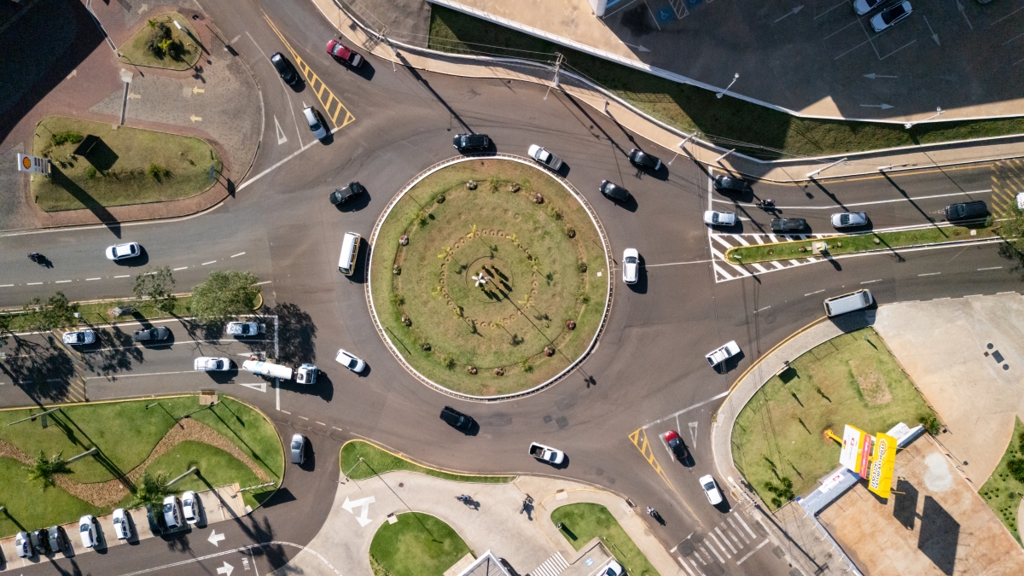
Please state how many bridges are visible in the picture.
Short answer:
zero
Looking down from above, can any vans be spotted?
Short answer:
Yes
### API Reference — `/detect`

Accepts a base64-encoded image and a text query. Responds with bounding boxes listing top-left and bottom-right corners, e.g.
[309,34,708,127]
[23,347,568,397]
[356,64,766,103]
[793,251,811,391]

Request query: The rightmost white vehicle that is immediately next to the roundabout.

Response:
[621,248,640,284]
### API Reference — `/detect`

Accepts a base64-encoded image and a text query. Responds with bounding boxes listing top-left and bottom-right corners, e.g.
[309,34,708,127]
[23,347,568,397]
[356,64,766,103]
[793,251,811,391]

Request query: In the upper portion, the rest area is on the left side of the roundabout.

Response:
[0,0,265,232]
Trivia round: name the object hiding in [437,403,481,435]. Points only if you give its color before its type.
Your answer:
black car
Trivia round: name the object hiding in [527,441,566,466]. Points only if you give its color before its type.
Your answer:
white vehicle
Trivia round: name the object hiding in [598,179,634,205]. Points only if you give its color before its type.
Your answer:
black car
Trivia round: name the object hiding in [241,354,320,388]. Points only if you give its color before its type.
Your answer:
white truck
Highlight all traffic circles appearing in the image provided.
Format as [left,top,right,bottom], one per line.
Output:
[366,153,615,402]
